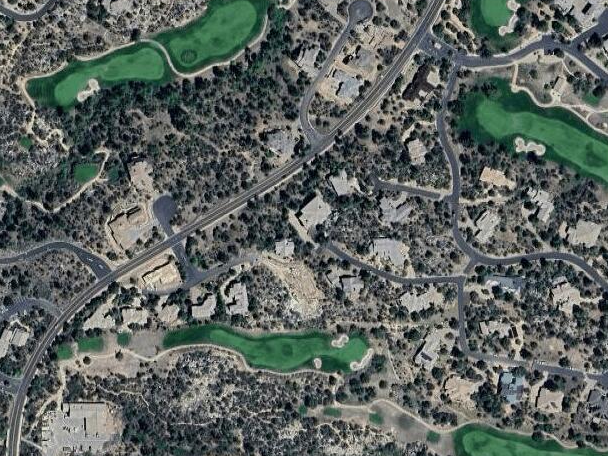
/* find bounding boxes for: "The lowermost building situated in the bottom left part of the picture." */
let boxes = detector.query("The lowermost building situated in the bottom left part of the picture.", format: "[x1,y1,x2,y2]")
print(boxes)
[63,402,109,437]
